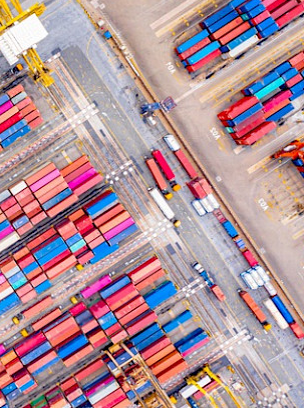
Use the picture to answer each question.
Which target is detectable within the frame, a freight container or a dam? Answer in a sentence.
The image shows a freight container.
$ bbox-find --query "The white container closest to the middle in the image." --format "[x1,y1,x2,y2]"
[147,186,174,215]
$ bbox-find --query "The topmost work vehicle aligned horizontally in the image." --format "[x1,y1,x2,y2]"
[134,99,178,115]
